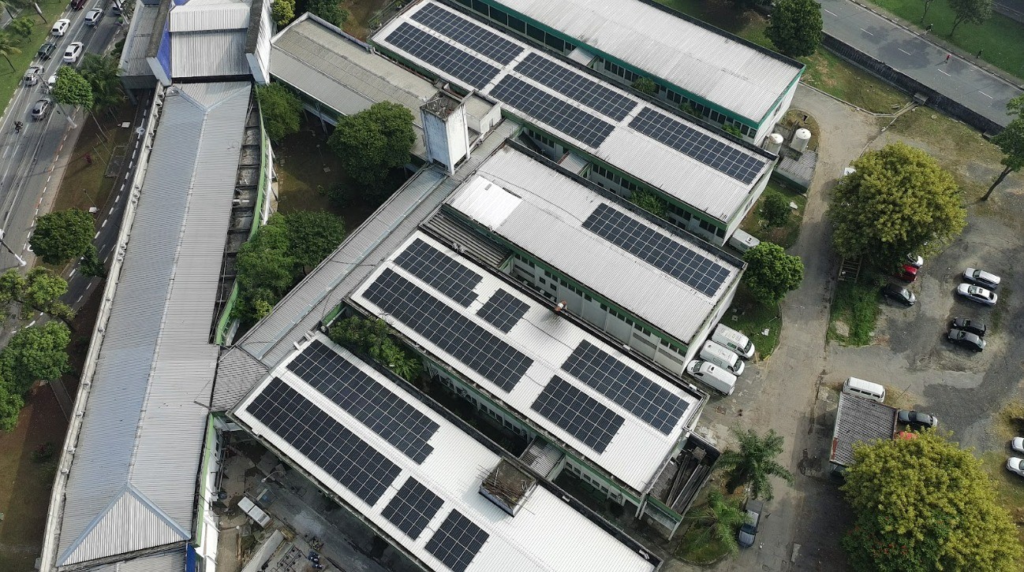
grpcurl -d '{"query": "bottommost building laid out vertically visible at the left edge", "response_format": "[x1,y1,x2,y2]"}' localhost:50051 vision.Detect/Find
[35,81,279,572]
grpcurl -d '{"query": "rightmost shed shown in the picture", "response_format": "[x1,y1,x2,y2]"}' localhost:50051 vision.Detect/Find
[824,391,899,472]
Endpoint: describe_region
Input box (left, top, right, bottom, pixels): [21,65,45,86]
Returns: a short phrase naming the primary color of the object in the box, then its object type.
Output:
gray car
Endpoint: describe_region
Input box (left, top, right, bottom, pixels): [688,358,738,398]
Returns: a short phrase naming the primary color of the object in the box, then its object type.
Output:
white van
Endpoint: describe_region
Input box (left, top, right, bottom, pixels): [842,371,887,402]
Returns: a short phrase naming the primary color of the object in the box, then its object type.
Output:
white vehicle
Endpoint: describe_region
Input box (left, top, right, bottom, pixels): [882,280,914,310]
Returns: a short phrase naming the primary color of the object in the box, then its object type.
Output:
black car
